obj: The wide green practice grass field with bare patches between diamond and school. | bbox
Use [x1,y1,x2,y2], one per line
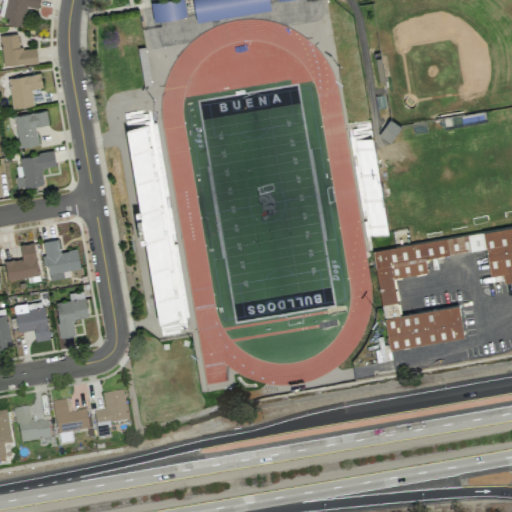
[382,107,512,245]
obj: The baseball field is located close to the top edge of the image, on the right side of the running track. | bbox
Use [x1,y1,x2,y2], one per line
[388,0,512,123]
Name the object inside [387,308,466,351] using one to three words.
building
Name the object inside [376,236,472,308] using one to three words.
building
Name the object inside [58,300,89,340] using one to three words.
house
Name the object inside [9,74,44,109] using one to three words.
house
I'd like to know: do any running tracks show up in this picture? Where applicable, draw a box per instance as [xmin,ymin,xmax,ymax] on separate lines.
[162,20,372,384]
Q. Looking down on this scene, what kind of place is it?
sports ground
